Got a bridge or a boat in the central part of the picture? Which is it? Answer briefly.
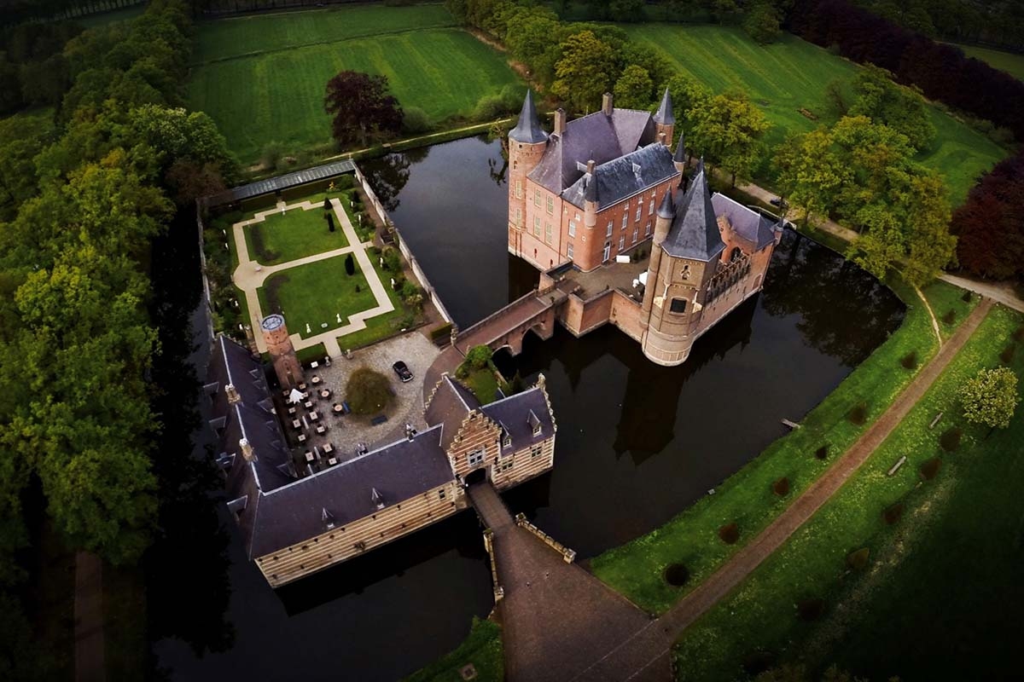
bridge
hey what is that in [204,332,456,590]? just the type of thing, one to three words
building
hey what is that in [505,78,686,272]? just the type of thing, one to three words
building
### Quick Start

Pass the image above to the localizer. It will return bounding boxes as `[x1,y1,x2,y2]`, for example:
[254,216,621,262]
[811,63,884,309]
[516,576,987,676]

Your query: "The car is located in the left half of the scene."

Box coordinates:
[393,362,412,383]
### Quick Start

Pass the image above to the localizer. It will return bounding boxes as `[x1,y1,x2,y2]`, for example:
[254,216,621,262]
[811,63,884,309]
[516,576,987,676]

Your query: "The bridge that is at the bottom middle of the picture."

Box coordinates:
[467,481,520,546]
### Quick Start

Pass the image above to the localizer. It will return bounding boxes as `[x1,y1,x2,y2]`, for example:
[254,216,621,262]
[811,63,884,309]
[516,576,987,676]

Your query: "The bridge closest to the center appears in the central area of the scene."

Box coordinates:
[462,287,555,360]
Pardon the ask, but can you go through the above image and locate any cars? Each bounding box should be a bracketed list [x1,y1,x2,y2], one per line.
[768,198,789,209]
[393,362,412,383]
